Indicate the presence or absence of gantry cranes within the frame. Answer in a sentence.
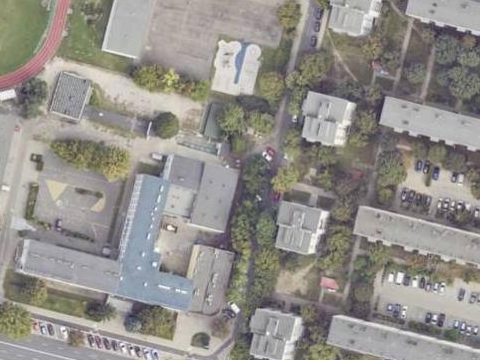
No, I can see no gantry crane in this picture.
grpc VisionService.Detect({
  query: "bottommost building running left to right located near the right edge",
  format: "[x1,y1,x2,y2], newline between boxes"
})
[326,312,480,360]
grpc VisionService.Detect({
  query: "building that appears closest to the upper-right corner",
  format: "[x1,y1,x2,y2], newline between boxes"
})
[403,0,480,36]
